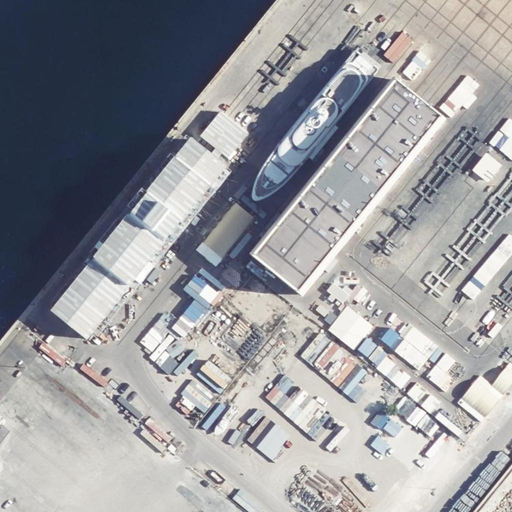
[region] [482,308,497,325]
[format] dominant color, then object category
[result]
white vehicle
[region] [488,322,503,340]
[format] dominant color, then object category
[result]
white vehicle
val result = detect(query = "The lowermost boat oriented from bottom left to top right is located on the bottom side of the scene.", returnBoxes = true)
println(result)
[216,408,238,433]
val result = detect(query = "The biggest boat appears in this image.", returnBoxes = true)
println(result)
[252,49,380,200]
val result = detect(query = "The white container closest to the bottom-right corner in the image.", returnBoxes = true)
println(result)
[434,412,464,438]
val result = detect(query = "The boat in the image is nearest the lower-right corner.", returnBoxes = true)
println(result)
[329,359,343,374]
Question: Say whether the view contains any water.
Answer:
Yes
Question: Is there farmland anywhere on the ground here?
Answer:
No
